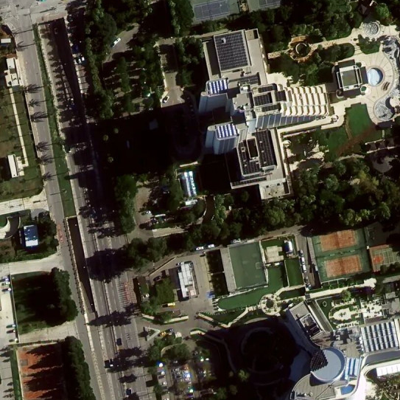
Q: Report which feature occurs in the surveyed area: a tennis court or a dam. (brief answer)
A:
tennis court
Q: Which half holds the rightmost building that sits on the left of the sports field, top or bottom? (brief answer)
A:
bottom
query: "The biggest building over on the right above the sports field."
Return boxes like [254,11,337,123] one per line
[197,28,334,203]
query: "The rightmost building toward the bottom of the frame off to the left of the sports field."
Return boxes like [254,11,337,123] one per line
[178,262,197,300]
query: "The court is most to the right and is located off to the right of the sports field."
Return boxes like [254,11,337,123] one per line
[369,242,400,273]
